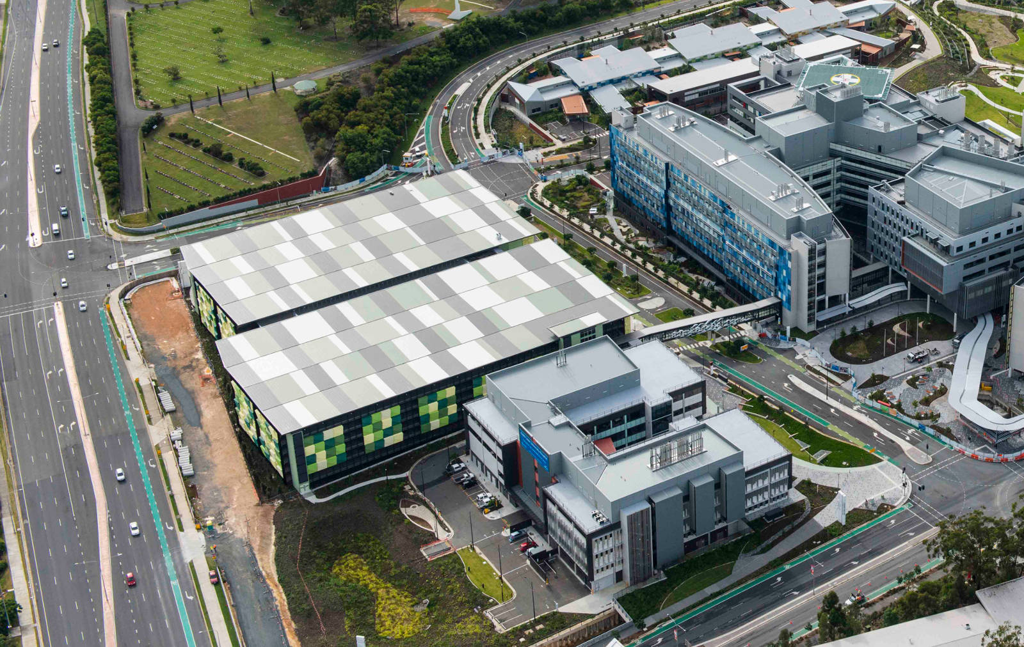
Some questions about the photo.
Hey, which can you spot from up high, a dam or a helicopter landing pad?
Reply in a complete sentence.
It is a helicopter landing pad that can be seen here.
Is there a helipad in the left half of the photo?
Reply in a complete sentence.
No, there's no helipad to be seen in the left half of the photo.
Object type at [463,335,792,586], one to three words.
building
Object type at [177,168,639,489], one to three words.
building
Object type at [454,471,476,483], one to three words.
vehicle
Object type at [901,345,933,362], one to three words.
vehicle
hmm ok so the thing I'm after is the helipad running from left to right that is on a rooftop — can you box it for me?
[789,55,901,109]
